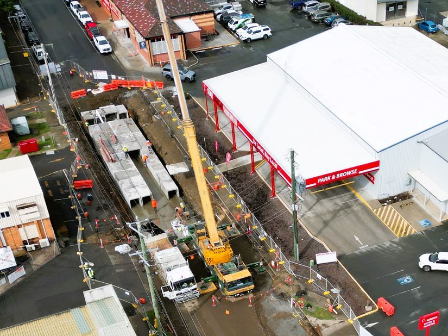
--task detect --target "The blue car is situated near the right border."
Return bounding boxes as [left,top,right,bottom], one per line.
[421,20,440,33]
